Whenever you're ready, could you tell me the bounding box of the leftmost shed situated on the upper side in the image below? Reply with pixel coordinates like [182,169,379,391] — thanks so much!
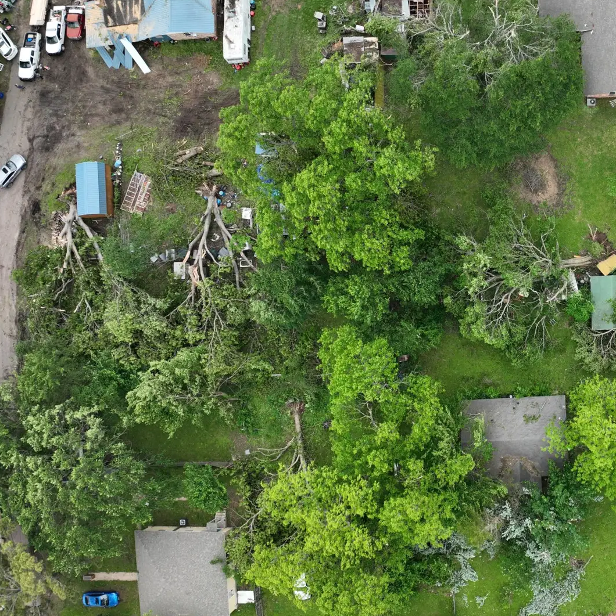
[75,162,117,218]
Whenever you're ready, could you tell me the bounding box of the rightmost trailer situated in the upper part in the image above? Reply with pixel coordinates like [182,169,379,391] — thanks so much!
[225,0,256,68]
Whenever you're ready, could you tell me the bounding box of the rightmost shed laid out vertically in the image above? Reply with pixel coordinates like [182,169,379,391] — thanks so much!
[591,276,616,330]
